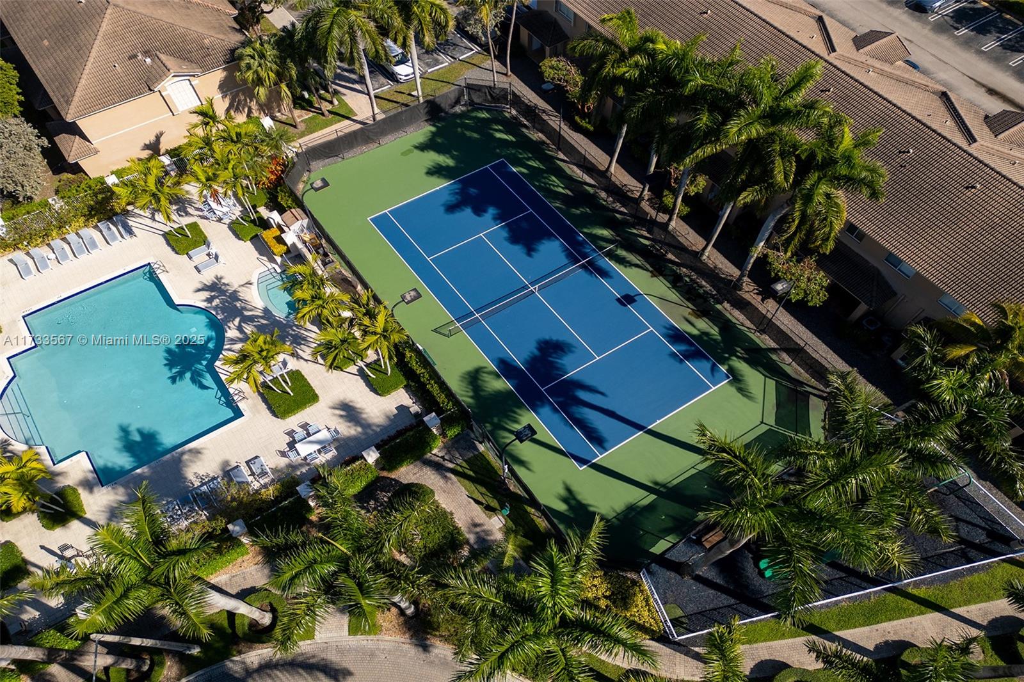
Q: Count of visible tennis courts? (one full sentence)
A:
I count just 1 tennis court.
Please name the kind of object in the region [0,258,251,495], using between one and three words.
swimming pool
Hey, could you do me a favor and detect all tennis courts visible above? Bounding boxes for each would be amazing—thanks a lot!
[303,108,826,570]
